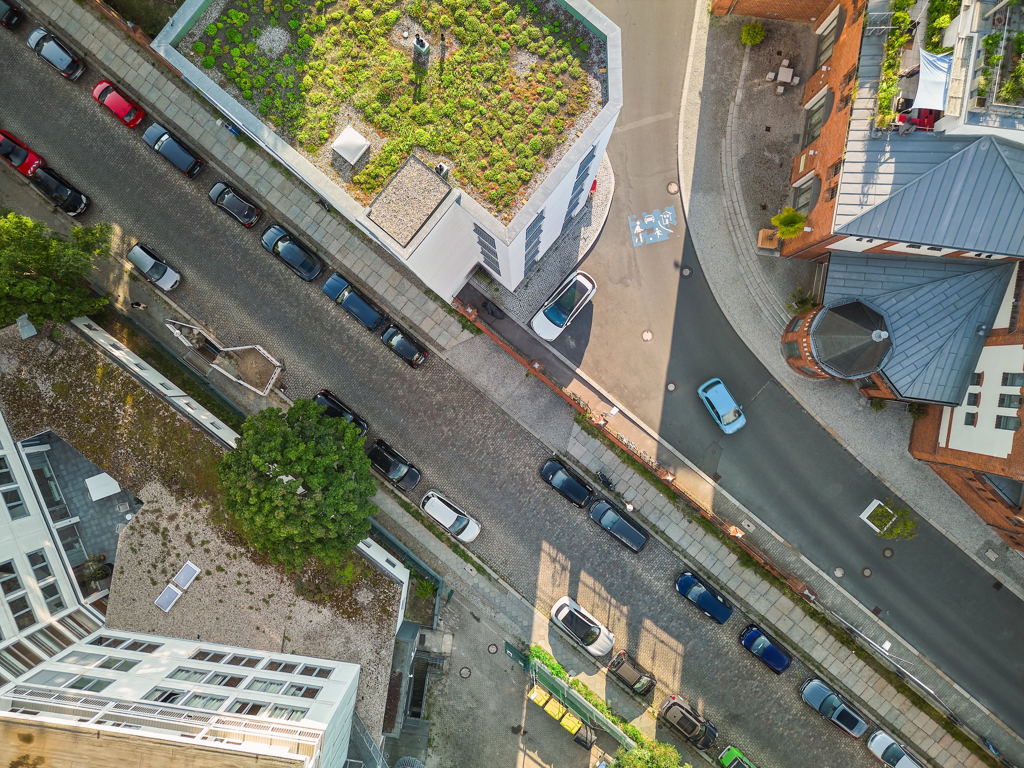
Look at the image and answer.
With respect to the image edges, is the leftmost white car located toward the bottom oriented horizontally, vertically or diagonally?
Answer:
diagonally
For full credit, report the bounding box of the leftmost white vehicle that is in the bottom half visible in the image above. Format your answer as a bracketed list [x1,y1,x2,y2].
[422,489,478,541]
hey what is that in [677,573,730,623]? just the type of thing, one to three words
car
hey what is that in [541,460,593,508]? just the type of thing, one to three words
car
